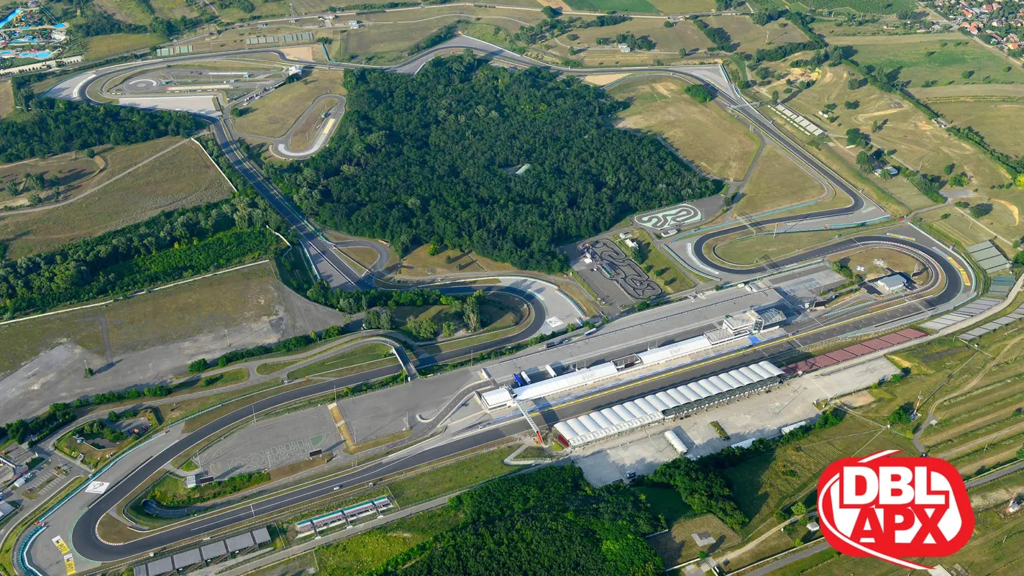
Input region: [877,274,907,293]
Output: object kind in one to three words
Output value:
building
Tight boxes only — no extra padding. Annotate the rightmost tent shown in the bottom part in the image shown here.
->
[662,430,689,456]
